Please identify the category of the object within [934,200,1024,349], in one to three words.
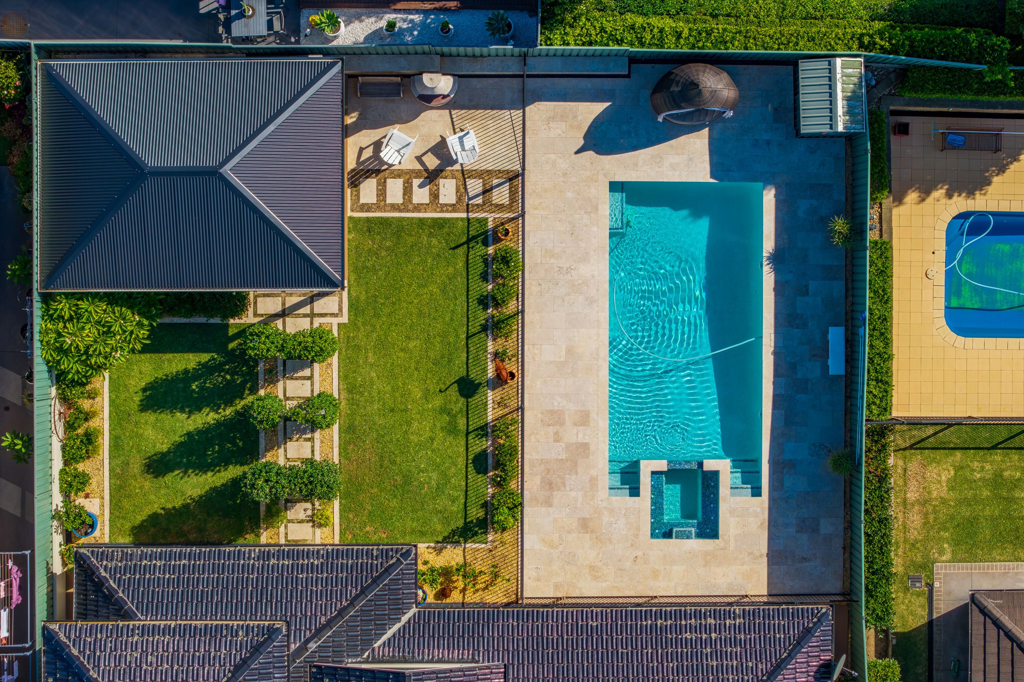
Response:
swimming pool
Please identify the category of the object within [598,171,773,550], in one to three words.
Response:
swimming pool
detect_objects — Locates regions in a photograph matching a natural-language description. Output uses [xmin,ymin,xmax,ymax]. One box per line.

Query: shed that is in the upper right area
[794,56,865,137]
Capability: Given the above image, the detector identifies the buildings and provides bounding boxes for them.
[38,59,350,291]
[794,56,865,137]
[963,587,1024,682]
[39,544,835,682]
